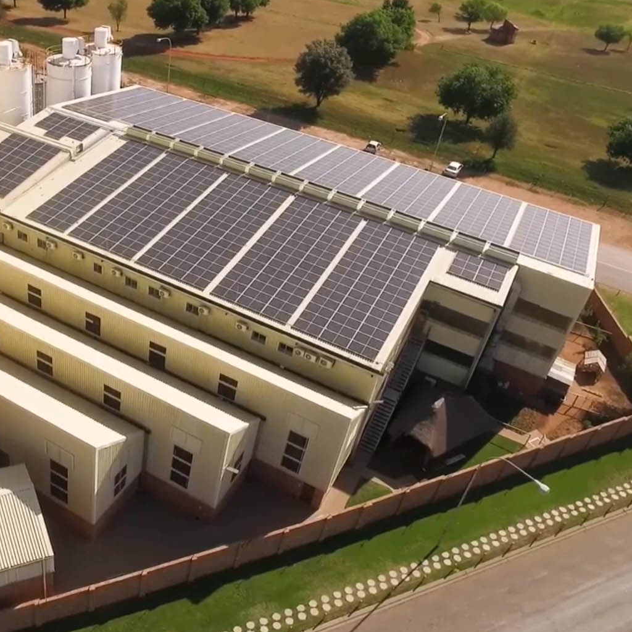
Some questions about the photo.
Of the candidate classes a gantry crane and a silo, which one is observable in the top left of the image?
silo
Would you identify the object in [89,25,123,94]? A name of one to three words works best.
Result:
silo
